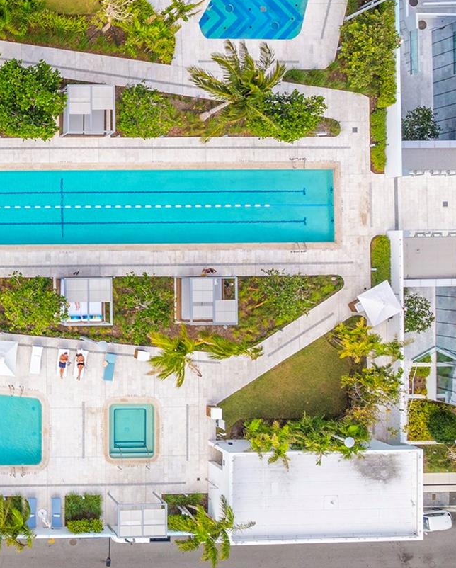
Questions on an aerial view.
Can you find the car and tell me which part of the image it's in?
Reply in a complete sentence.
The car appears toward the bottom right of the photo.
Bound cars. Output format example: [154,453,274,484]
[425,509,455,533]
